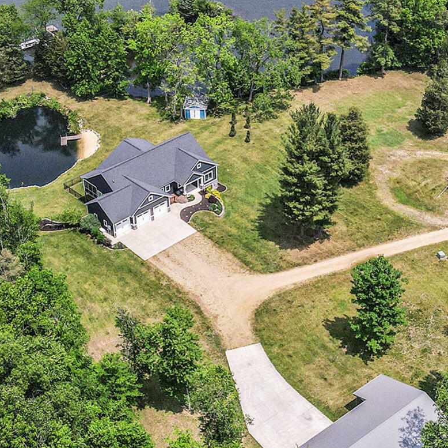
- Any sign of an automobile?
No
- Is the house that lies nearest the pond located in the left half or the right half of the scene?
left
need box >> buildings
[297,377,442,448]
[182,95,207,118]
[81,133,219,237]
